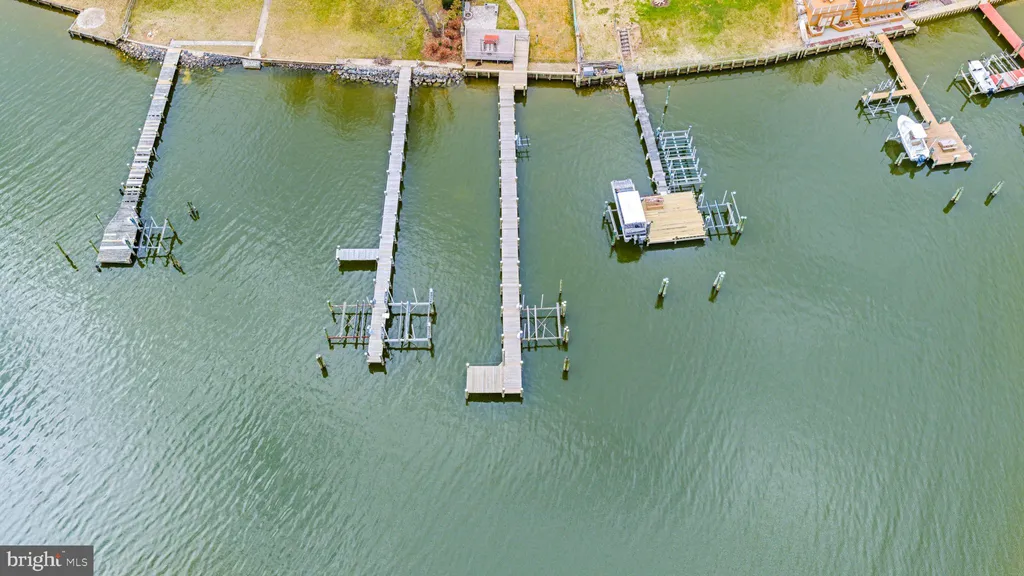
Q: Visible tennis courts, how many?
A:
none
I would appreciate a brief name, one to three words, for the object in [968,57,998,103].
boat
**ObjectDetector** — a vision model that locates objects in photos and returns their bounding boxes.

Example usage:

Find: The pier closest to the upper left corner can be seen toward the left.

[97,50,182,268]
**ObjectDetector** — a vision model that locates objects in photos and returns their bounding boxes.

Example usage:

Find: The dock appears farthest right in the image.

[978,2,1024,94]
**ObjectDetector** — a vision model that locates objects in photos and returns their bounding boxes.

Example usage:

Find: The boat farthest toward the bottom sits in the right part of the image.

[610,180,647,250]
